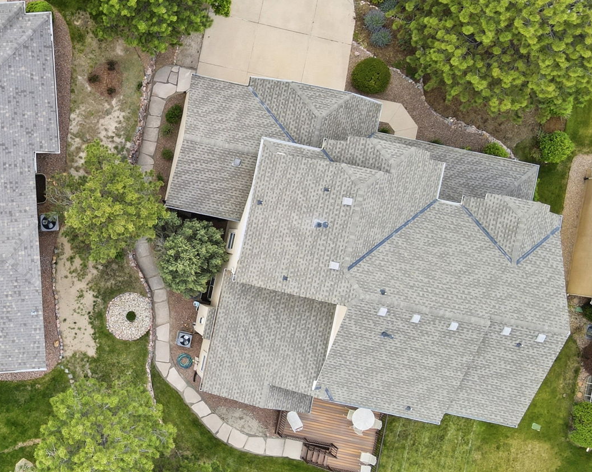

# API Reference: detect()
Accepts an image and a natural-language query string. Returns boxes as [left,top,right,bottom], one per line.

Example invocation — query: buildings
[156,72,571,429]
[0,0,62,375]
[566,175,592,297]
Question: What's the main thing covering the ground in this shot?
buildings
